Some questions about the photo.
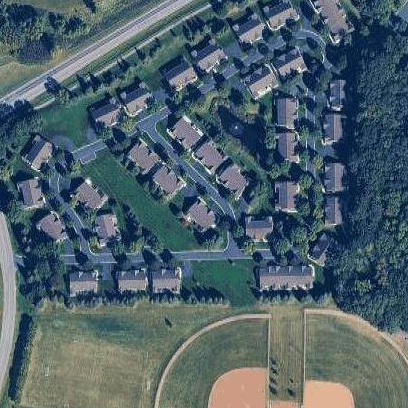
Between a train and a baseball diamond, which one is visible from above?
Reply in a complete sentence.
This aerial view contains a baseball diamond.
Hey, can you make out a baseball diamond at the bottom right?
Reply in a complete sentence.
Yes, the scene does show a baseball diamond at the bottom right.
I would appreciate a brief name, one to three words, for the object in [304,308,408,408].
baseball field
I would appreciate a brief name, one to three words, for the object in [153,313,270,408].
baseball field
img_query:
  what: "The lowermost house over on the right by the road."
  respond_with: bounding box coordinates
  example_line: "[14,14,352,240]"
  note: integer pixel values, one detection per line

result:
[260,266,315,291]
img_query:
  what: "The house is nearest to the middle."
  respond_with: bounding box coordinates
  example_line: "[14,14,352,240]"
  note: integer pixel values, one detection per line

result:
[186,197,218,228]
